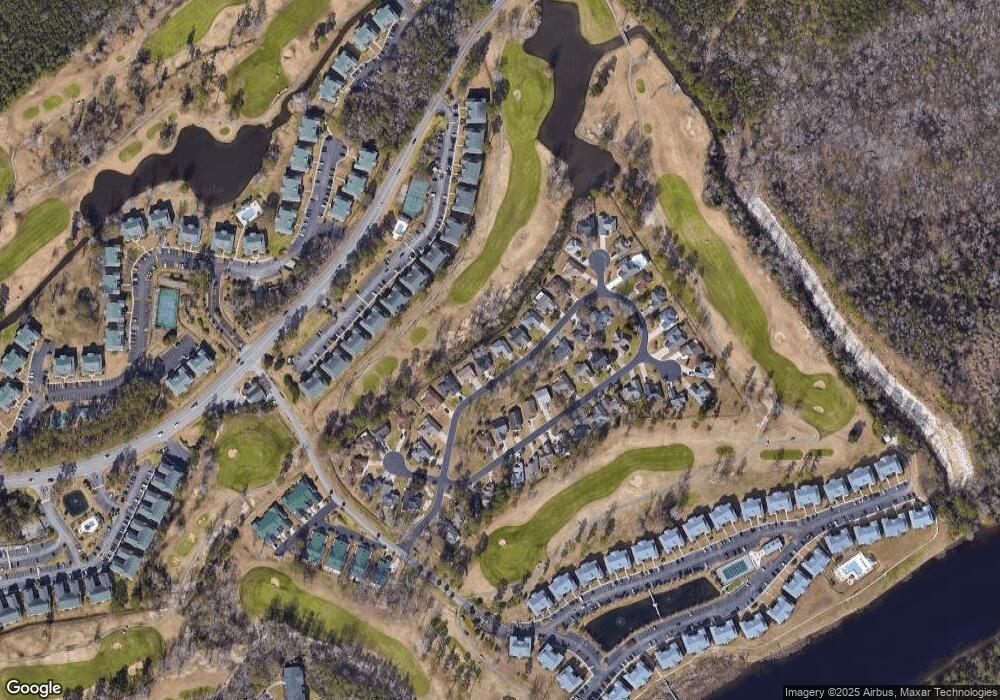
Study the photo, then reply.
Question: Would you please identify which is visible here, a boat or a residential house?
residential house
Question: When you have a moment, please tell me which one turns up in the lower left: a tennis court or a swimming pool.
swimming pool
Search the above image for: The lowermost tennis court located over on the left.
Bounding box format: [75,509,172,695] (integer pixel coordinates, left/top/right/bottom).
[156,289,179,327]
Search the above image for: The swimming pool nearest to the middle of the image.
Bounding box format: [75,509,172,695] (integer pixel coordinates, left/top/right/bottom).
[393,220,408,237]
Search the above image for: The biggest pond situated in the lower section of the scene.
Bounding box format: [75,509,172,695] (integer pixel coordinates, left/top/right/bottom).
[586,577,720,651]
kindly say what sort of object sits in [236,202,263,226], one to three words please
swimming pool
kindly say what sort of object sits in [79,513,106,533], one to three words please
swimming pool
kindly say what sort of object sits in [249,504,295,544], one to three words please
house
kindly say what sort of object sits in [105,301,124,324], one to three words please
building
